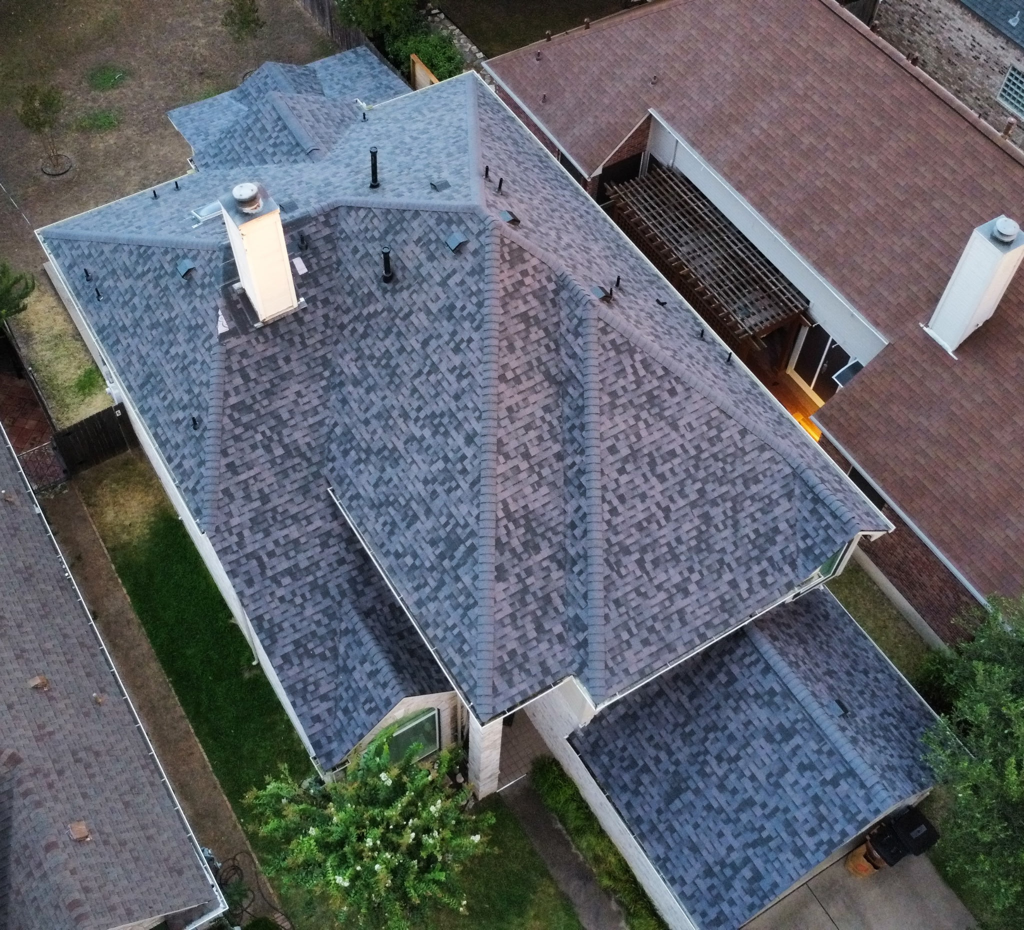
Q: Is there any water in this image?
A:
No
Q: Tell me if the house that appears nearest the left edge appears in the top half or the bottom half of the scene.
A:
bottom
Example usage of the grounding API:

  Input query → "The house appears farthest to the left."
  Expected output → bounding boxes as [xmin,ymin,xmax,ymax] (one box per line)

[0,421,234,930]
